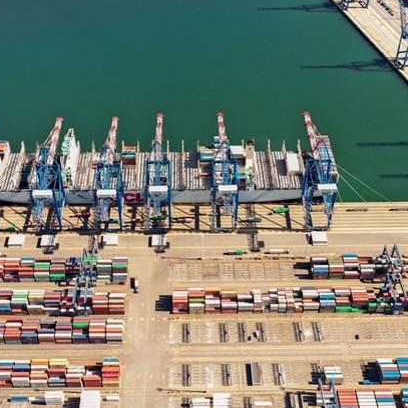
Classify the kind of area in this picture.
port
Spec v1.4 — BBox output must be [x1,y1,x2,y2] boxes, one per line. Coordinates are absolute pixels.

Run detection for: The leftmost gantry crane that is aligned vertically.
[28,113,69,233]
